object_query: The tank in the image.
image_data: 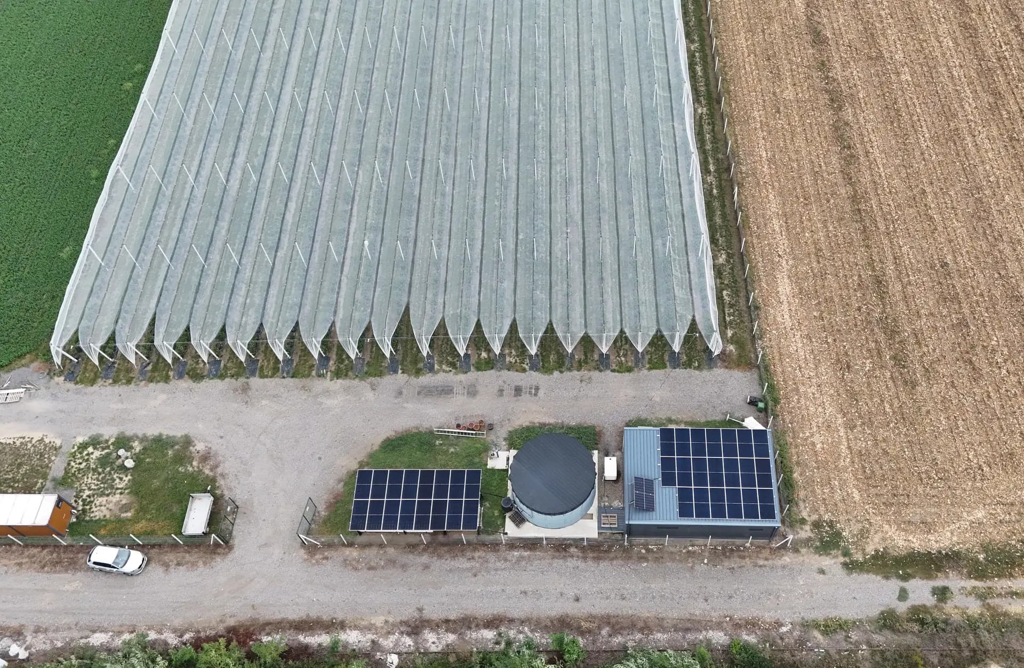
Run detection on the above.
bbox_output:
[509,433,597,528]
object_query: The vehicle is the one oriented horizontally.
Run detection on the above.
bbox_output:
[85,542,150,575]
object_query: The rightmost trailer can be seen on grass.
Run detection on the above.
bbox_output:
[181,485,214,536]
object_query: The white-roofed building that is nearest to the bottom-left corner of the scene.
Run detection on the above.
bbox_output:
[0,494,76,536]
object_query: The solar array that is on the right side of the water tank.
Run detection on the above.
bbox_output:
[658,427,778,521]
